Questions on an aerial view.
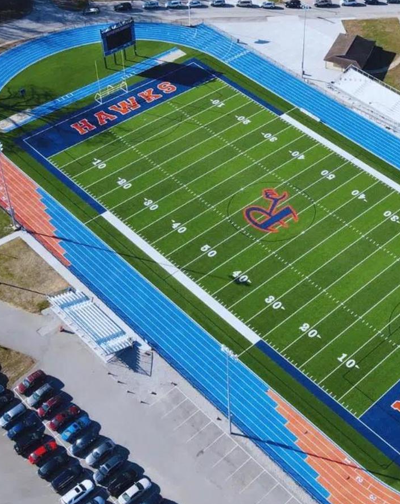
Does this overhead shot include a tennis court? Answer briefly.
No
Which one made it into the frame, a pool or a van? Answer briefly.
van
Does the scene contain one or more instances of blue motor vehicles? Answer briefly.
Yes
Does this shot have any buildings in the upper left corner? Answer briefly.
No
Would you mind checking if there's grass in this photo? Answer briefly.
Yes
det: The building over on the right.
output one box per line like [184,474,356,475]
[324,29,375,72]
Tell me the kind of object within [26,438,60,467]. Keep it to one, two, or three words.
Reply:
car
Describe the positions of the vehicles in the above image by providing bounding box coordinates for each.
[118,477,151,504]
[96,451,128,481]
[189,0,205,7]
[209,0,227,6]
[135,486,169,504]
[6,412,41,439]
[85,493,108,504]
[165,0,182,7]
[107,465,140,497]
[69,428,102,457]
[86,440,115,465]
[61,479,95,504]
[48,405,81,432]
[16,369,47,393]
[0,391,16,409]
[35,392,66,420]
[260,1,277,9]
[26,379,57,407]
[16,424,46,452]
[26,438,60,467]
[316,0,333,5]
[50,461,85,493]
[285,0,302,7]
[340,0,357,5]
[235,0,253,6]
[114,1,132,10]
[0,396,30,425]
[60,414,93,442]
[35,449,73,481]
[142,0,159,9]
